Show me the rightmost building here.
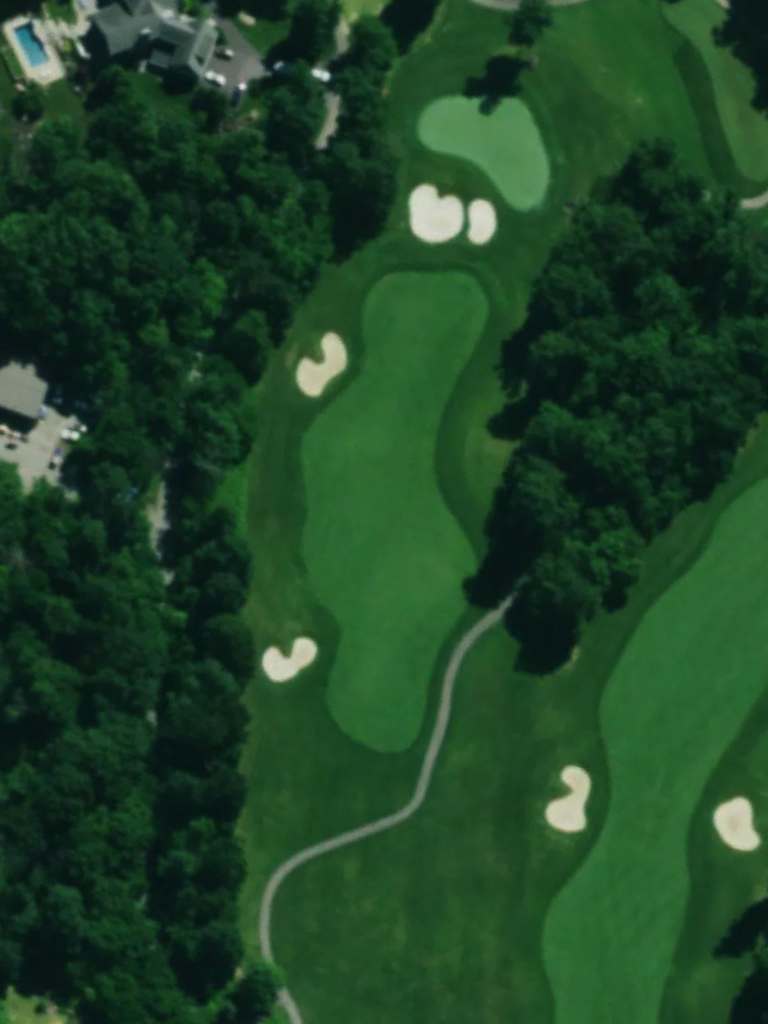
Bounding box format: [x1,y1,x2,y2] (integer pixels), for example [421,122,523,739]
[93,0,219,82]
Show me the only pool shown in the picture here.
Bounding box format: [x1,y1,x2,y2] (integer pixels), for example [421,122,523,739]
[4,15,66,87]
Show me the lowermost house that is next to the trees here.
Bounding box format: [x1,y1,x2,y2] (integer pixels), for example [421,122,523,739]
[0,365,53,425]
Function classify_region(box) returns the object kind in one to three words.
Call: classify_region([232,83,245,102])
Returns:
vehicle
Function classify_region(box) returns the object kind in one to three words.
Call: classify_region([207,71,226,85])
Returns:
car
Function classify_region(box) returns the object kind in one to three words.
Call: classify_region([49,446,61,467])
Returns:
vehicle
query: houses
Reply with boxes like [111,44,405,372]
[93,0,219,82]
[0,365,53,425]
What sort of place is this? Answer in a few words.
golf course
